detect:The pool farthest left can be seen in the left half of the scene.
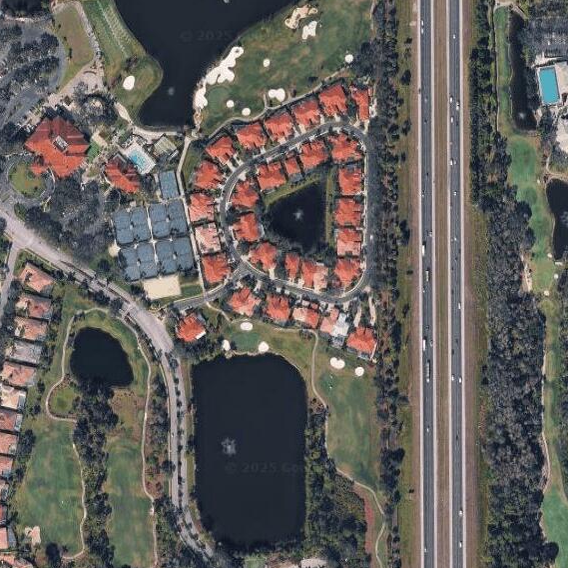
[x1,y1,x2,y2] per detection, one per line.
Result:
[124,142,154,174]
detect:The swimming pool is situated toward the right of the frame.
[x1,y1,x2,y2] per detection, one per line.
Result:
[536,62,568,108]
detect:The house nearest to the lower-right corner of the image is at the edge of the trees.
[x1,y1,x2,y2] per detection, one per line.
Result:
[345,328,380,361]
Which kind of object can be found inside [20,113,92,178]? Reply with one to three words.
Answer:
building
